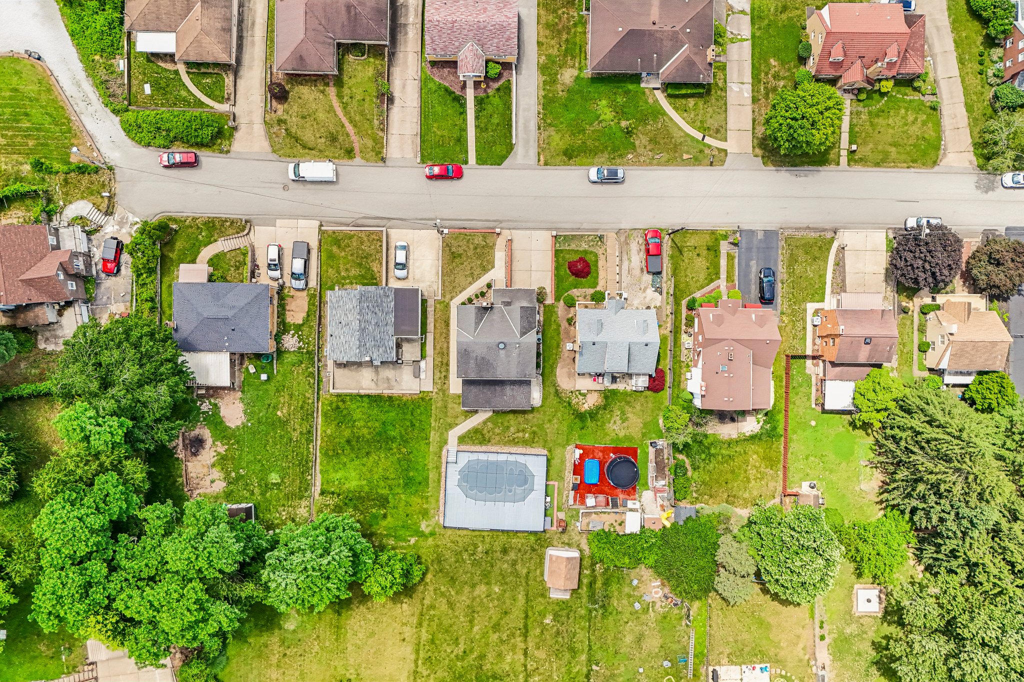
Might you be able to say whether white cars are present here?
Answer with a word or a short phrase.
Yes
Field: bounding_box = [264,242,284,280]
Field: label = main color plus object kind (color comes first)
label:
white car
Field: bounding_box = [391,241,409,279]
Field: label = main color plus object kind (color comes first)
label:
white car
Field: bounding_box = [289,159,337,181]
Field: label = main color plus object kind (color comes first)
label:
white vehicle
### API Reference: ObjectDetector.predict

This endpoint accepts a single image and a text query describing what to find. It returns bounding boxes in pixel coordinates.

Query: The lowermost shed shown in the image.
[547,550,579,599]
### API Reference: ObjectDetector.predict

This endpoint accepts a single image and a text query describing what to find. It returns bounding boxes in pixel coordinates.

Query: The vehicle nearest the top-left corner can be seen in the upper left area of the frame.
[158,149,200,169]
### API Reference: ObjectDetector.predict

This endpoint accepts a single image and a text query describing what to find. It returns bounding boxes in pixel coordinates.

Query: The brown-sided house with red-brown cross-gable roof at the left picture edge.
[0,221,91,325]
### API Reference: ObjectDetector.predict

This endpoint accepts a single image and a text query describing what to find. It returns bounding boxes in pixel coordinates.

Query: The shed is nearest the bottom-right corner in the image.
[794,492,818,510]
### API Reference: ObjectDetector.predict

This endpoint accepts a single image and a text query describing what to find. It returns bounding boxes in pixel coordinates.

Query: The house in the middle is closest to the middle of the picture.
[455,279,539,409]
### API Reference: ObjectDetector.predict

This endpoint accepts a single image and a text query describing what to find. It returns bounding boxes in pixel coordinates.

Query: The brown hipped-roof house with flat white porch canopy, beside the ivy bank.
[125,0,240,69]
